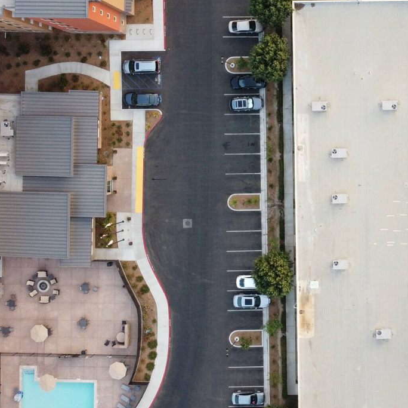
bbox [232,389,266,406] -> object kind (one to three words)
car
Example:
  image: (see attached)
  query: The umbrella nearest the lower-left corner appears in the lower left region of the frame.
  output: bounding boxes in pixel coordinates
[38,373,56,392]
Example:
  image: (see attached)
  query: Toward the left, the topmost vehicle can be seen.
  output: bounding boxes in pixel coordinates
[125,58,162,75]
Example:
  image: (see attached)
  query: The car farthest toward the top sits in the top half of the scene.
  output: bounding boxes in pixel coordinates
[228,19,263,35]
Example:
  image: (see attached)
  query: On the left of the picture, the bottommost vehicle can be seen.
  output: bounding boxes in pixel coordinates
[126,92,163,108]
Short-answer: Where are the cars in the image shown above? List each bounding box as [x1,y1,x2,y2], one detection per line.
[235,274,266,290]
[233,293,272,309]
[126,92,163,108]
[232,389,266,406]
[228,19,263,35]
[231,96,263,112]
[125,58,162,75]
[231,73,266,90]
